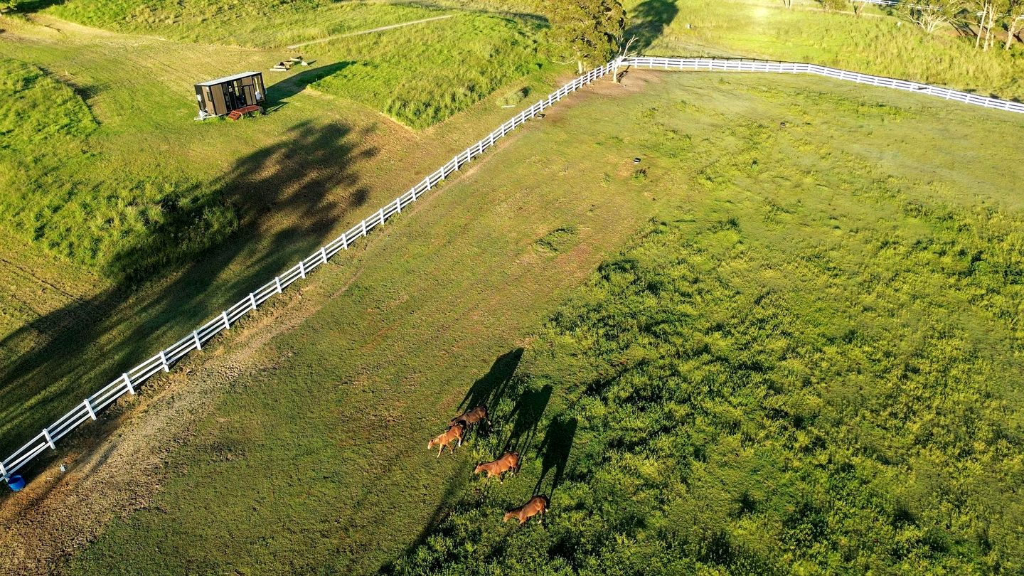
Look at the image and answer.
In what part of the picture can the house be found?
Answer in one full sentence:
The house sits in the top left section of the image.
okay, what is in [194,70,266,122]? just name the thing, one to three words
house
